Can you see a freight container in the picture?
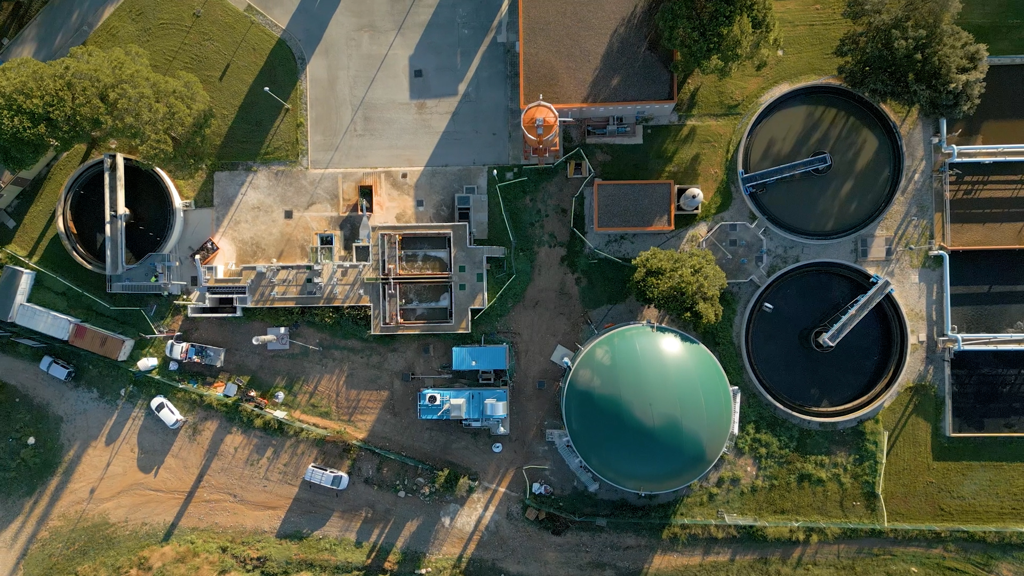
Yes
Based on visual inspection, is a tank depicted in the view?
Yes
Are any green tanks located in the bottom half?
Yes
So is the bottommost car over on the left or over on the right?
left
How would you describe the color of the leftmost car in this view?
blue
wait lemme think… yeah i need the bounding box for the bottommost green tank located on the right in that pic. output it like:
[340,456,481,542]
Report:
[554,316,734,496]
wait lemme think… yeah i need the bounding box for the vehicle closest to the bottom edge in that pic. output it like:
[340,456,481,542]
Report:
[303,461,351,490]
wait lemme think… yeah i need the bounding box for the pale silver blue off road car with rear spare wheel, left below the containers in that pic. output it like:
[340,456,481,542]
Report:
[37,354,77,381]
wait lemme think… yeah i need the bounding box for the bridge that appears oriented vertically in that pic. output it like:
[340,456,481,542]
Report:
[103,150,150,275]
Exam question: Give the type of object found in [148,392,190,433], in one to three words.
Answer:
car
